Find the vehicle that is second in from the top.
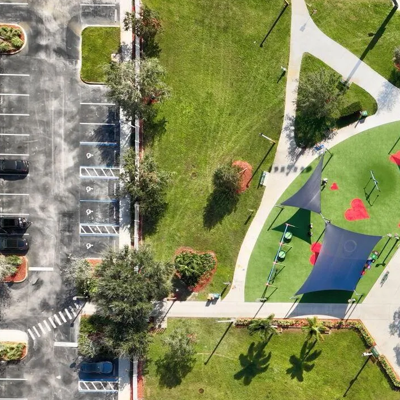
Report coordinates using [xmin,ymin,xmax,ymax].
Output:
[0,216,29,229]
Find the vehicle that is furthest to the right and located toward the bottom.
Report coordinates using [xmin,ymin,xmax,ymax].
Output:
[80,360,113,375]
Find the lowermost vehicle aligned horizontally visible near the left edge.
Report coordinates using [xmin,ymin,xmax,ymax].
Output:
[0,237,29,251]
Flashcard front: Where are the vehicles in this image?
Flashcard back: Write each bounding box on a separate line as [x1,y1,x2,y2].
[0,237,29,251]
[0,158,32,173]
[80,360,113,375]
[0,216,29,229]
